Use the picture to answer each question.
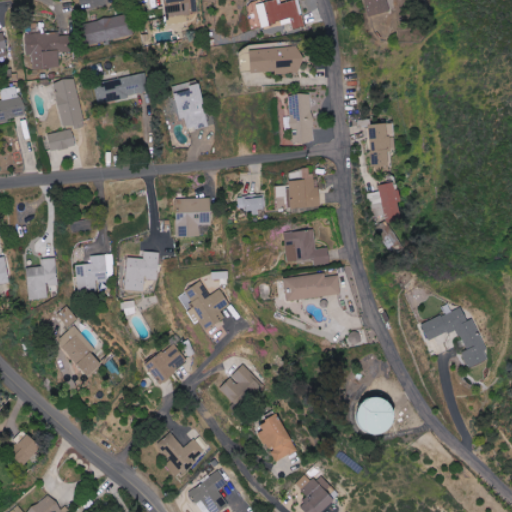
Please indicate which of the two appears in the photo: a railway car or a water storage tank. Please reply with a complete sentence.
Visible in the photo is a water storage tank.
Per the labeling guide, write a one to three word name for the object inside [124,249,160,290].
house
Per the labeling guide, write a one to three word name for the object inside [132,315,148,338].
swimming pool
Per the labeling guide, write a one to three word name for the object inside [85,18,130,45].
house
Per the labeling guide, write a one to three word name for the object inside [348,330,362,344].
gazebo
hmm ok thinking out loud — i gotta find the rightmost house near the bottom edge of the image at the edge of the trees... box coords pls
[297,464,339,512]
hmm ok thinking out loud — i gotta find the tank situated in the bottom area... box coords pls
[357,398,394,434]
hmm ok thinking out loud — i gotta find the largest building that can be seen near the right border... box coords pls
[422,304,490,366]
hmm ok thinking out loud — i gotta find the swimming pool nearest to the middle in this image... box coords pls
[306,304,324,322]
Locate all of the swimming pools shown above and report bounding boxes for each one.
[173,122,188,144]
[82,330,97,347]
[155,30,172,43]
[132,315,148,338]
[34,94,44,116]
[306,304,324,322]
